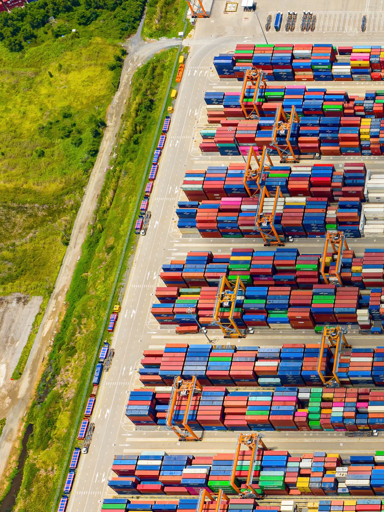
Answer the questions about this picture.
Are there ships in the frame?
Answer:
No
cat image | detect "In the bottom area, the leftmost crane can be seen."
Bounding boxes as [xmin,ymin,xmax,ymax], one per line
[161,376,202,442]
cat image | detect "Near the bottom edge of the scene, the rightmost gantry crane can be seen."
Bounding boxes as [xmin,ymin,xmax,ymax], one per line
[230,433,274,502]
